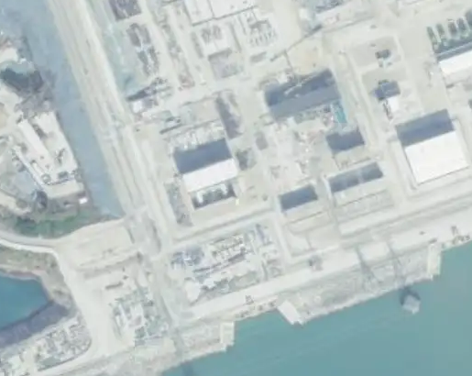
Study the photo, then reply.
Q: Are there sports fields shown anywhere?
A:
No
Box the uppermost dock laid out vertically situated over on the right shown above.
[429,248,442,279]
